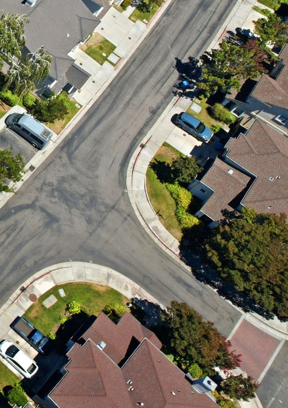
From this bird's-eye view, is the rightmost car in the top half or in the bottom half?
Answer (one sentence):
The rightmost car is in the top half of the image.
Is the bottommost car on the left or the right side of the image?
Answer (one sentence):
It is on the left.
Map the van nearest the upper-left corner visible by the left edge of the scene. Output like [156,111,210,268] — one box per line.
[5,115,54,150]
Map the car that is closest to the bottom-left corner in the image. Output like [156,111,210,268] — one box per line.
[0,338,40,381]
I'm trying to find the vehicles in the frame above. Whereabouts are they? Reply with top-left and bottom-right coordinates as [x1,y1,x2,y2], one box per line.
[171,111,212,141]
[5,115,54,150]
[0,338,40,381]
[5,309,54,360]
